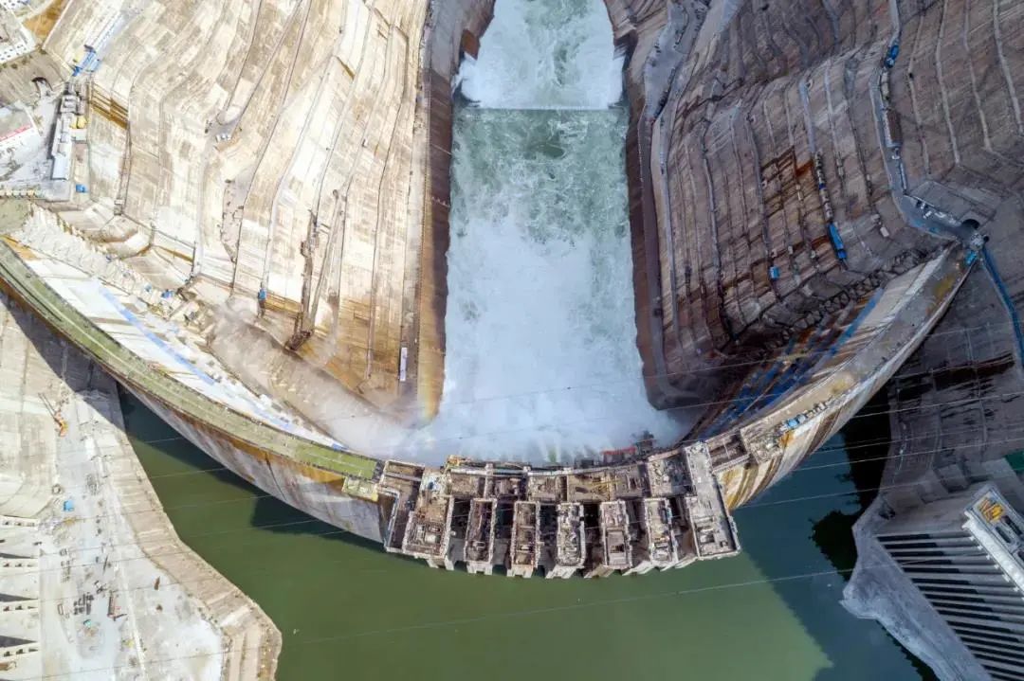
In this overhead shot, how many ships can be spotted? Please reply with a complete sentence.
The count of ships is 0.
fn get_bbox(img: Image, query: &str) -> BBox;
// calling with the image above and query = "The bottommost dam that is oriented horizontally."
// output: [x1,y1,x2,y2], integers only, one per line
[0,233,975,579]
